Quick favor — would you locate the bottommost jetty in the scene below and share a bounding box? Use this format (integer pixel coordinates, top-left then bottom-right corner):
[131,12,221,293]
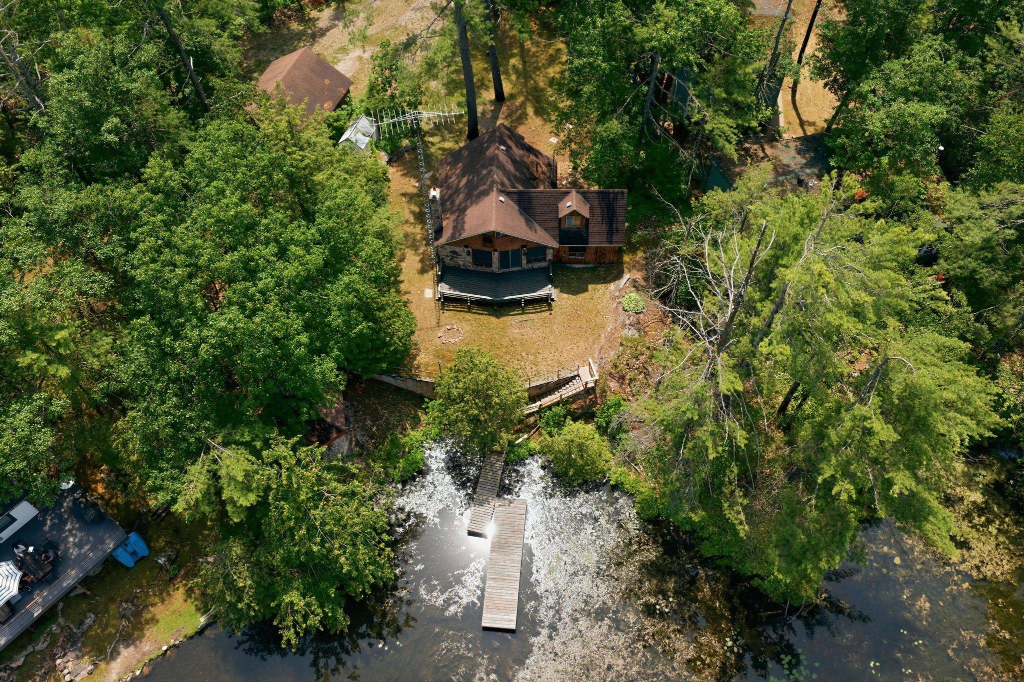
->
[482,499,527,632]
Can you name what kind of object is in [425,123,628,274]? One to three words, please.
building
